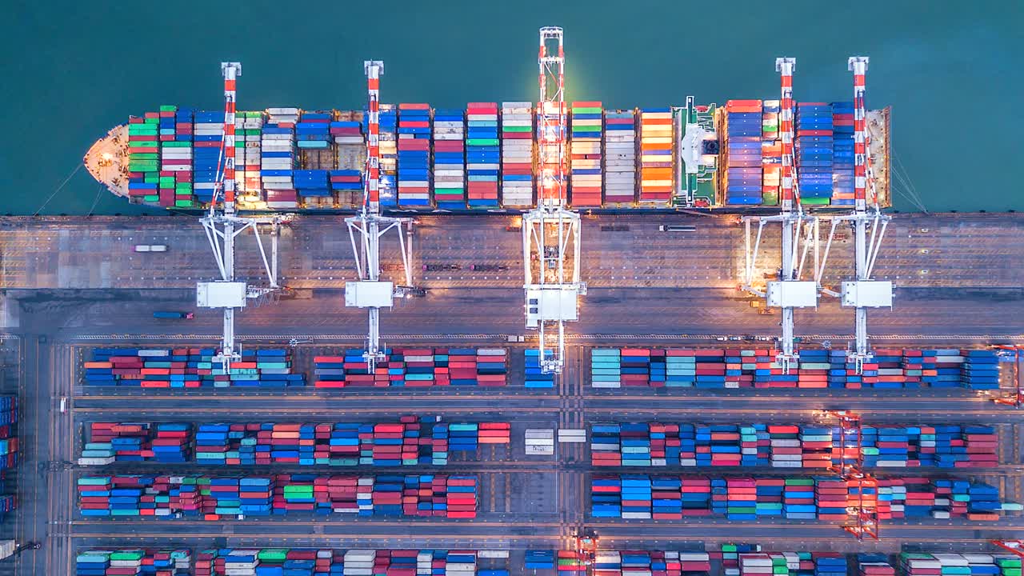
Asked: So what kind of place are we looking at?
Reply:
port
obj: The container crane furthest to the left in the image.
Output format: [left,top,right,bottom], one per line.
[197,64,293,373]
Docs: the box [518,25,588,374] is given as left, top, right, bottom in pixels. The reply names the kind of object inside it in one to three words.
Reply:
container crane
